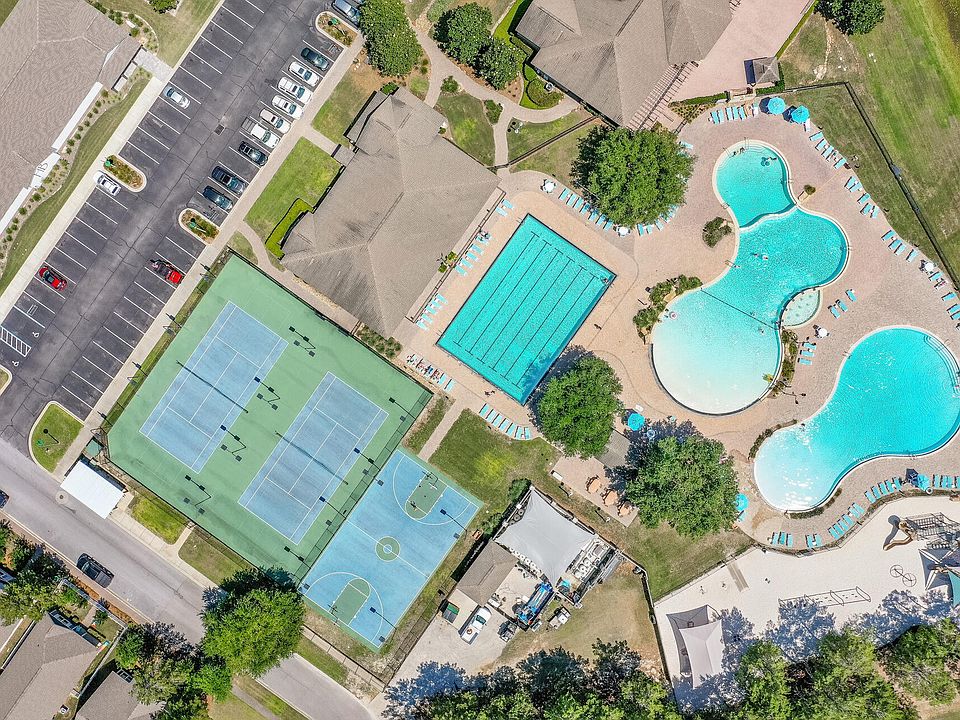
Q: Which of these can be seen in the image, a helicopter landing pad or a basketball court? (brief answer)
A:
basketball court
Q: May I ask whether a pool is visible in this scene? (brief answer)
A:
Yes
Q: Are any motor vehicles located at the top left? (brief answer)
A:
Yes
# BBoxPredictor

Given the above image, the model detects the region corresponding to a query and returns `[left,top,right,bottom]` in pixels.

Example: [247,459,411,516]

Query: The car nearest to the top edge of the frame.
[330,0,360,24]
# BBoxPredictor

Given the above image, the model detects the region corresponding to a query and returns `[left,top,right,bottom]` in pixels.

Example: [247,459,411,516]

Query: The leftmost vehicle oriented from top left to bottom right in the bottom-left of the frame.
[75,554,116,589]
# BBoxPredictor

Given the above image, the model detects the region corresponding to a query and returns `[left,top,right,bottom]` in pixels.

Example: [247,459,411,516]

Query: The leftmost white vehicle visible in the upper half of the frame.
[92,171,125,198]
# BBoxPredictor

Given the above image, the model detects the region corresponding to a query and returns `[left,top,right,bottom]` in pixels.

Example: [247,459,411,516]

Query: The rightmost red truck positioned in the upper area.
[150,257,185,285]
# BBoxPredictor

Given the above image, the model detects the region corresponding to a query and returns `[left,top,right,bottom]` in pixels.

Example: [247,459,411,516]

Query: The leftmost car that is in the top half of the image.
[38,265,68,290]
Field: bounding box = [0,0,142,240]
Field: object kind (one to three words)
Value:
building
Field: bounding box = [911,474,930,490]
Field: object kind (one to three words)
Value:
umbrella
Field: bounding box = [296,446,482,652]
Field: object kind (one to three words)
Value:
basketball court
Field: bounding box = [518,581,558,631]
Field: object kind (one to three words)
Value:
trailer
